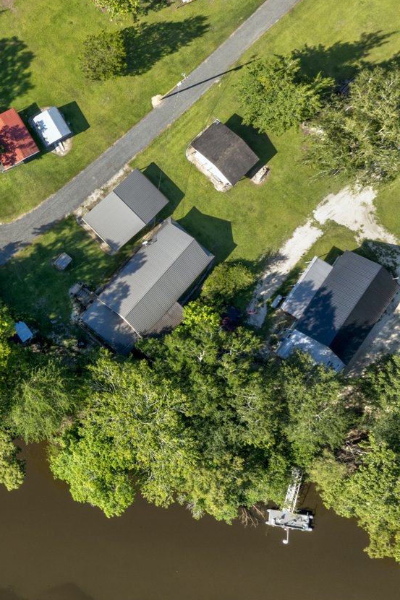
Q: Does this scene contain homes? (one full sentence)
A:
Yes, this view includes a home.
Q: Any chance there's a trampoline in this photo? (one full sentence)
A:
No, I find no trampoline anywhere in the image.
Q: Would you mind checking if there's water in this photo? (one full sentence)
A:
Yes, the picture does contain water.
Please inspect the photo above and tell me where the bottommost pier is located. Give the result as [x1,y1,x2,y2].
[263,509,314,542]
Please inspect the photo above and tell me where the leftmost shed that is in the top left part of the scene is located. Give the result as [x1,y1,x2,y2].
[0,107,38,171]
